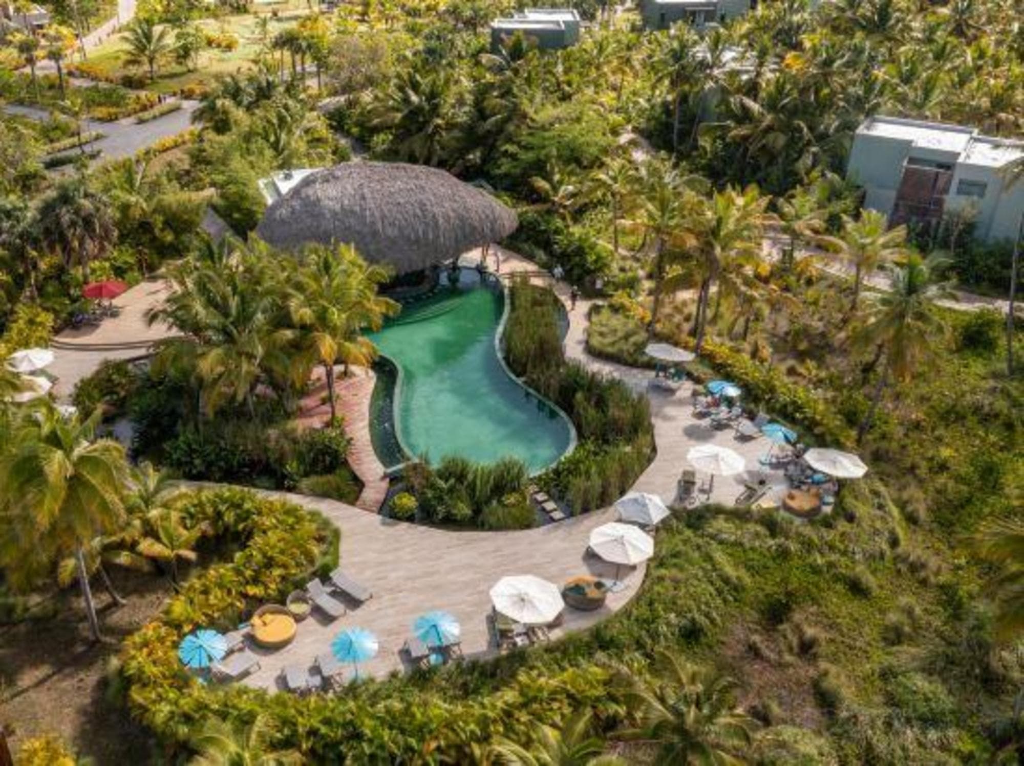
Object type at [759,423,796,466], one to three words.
umbrella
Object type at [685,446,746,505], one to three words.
umbrella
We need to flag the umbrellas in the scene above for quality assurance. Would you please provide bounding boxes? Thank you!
[685,446,746,505]
[804,447,863,504]
[2,355,59,375]
[759,423,796,466]
[707,383,741,426]
[412,616,460,676]
[644,347,695,395]
[588,524,656,591]
[78,281,134,326]
[0,375,57,428]
[614,486,676,545]
[330,629,380,690]
[491,575,564,649]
